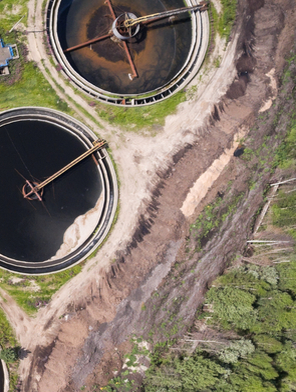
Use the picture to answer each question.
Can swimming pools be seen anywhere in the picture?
No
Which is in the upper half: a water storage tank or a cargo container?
water storage tank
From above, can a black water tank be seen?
Yes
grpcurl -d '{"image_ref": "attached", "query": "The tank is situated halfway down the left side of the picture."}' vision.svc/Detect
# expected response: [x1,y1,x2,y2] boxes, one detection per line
[0,106,118,275]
